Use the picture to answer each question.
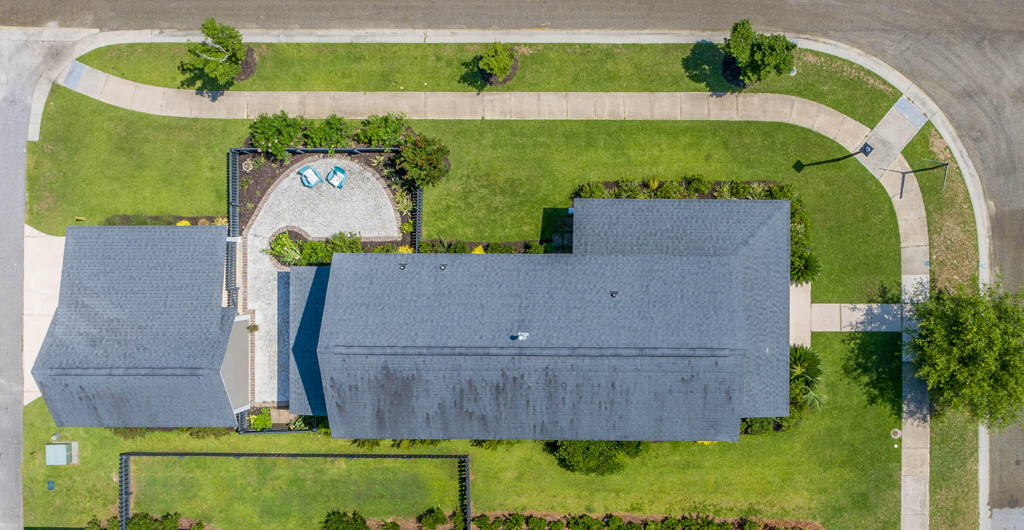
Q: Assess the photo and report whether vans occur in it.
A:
No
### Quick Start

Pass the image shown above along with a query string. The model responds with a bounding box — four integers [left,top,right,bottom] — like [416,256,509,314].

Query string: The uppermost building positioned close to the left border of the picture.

[33,226,251,427]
